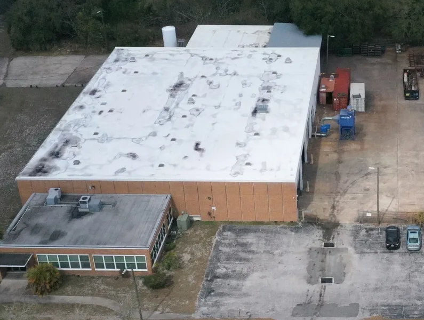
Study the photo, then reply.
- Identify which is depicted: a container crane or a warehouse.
warehouse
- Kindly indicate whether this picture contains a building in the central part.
Yes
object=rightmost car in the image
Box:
[405,224,422,248]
